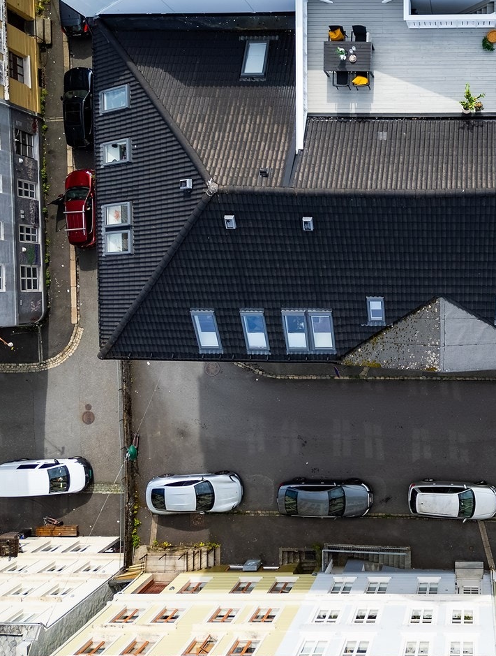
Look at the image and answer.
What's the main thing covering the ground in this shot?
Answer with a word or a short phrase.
buildings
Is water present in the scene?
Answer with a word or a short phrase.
No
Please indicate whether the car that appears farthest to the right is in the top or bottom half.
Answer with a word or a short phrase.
bottom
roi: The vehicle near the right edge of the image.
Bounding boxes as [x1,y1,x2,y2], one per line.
[409,478,496,525]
